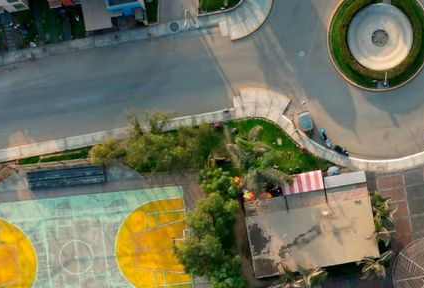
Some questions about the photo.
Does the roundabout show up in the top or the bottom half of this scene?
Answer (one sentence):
You can find the roundabout in the top half.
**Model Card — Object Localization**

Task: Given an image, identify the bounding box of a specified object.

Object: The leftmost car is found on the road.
[295,109,313,139]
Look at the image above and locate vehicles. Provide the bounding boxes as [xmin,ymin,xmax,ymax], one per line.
[295,109,313,139]
[335,145,350,155]
[319,128,331,147]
